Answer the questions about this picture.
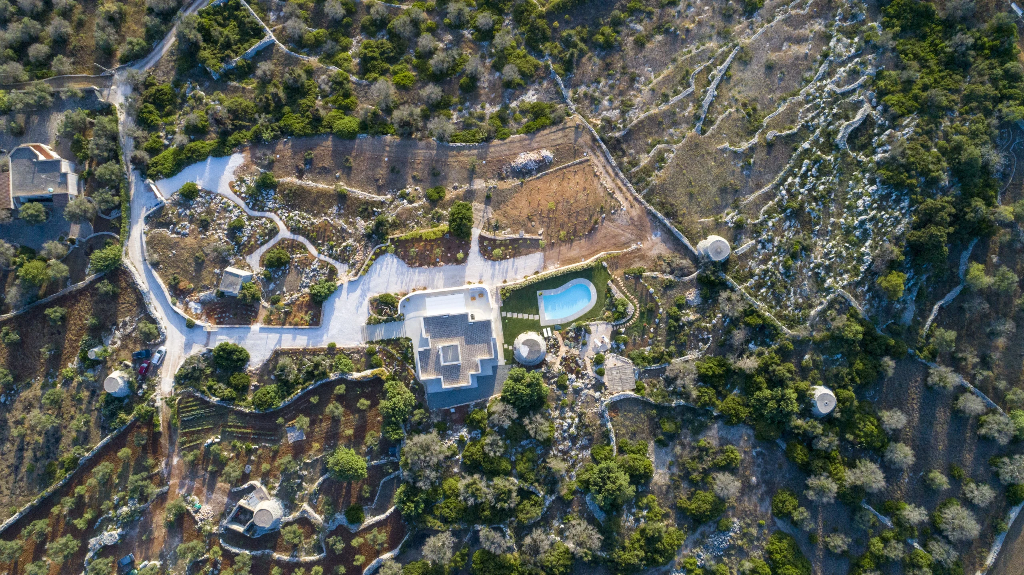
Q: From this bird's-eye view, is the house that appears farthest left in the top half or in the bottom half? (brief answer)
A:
top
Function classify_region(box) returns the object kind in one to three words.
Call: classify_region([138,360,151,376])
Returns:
vehicle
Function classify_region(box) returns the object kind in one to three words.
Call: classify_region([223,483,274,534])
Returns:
building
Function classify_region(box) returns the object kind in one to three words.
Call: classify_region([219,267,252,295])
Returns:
shed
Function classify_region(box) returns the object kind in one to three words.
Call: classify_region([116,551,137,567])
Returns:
vehicle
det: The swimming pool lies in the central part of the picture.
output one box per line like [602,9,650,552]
[537,278,597,326]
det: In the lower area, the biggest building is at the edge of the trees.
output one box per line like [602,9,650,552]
[418,312,499,388]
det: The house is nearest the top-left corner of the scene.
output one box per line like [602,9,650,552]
[0,143,87,210]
